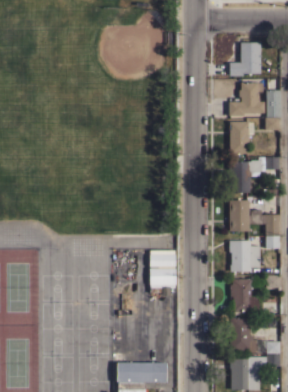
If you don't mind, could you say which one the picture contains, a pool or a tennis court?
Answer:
tennis court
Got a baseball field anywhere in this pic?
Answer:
Yes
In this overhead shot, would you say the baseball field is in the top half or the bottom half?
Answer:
top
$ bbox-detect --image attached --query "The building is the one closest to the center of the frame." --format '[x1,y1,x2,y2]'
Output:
[150,250,176,268]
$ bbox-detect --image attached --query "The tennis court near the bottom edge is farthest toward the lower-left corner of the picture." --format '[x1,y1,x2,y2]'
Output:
[4,338,32,389]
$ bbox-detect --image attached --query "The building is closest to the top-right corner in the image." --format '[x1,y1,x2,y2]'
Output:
[230,42,262,76]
